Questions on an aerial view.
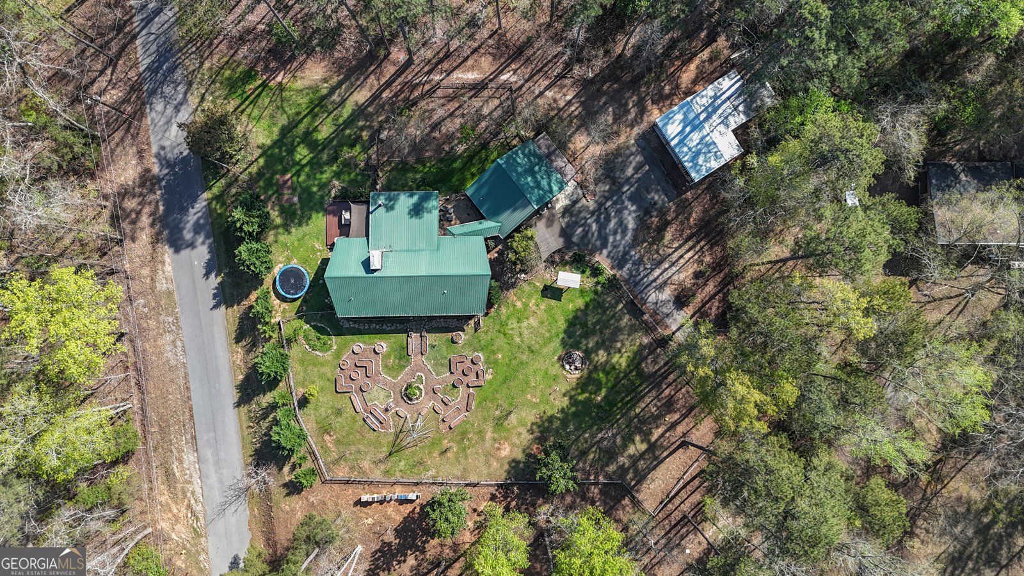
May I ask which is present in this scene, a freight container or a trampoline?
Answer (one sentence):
The one in the frame is a trampoline.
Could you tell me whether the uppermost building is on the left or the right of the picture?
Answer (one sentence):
It is on the right.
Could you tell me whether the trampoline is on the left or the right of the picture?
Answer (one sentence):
It is on the left.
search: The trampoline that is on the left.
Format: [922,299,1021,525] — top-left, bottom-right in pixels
[276,266,310,300]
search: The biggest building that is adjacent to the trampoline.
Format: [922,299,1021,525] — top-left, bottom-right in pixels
[324,191,491,318]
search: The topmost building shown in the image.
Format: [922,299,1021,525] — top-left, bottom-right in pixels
[653,70,780,183]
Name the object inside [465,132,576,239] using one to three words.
building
